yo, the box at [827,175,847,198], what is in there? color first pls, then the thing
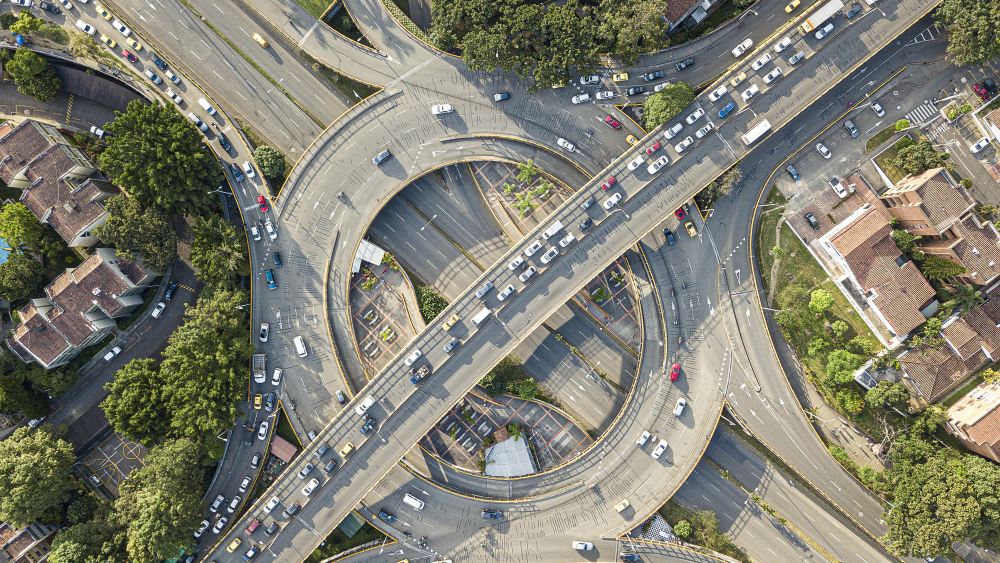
white vehicle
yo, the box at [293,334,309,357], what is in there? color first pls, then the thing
white vehicle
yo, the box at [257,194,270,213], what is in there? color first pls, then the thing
red vehicle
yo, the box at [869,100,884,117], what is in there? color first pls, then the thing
white car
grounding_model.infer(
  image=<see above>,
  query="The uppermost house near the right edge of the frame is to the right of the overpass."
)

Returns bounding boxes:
[969,103,1000,154]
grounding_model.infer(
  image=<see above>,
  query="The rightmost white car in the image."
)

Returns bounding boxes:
[968,139,987,154]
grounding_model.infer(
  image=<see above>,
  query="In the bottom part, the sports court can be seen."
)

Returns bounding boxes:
[82,401,175,499]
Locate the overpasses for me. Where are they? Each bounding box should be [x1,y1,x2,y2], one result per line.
[201,0,941,563]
